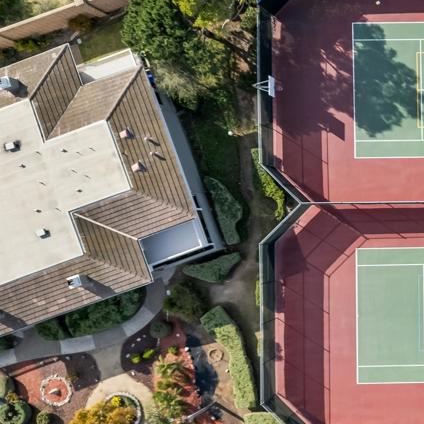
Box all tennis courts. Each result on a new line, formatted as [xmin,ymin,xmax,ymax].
[273,207,424,424]
[270,0,424,208]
